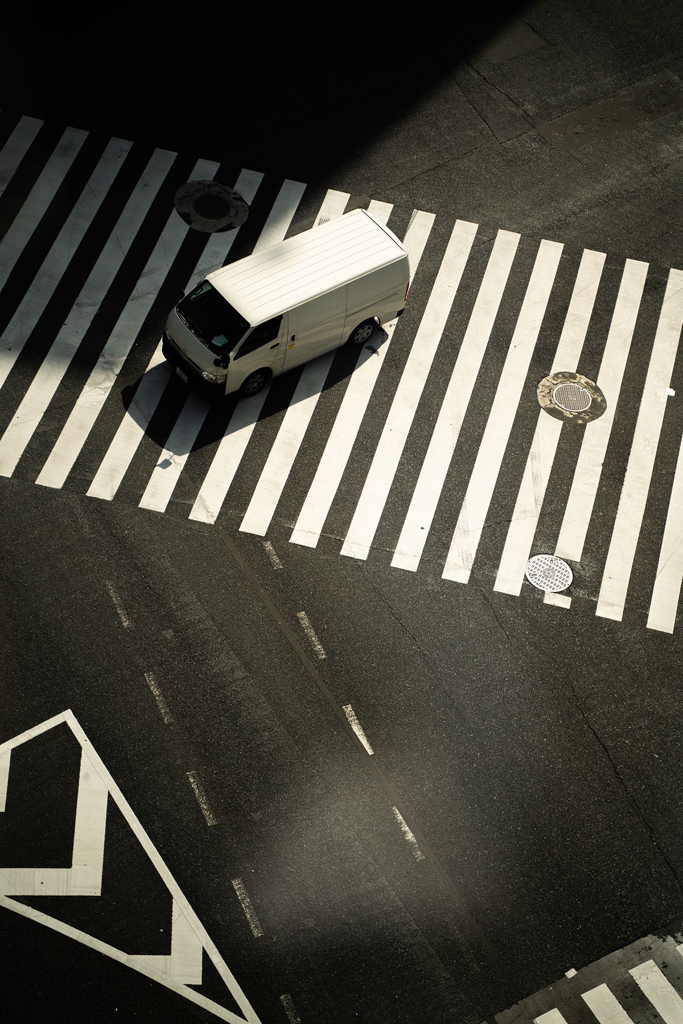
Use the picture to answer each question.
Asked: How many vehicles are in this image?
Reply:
1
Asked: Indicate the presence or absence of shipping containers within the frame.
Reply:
No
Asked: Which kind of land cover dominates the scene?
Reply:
paved ground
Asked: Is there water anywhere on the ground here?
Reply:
No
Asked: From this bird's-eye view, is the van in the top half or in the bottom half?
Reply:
top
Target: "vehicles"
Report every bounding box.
[164,210,408,398]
